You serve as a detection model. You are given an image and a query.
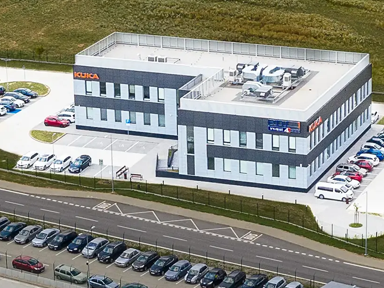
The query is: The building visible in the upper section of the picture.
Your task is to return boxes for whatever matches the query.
[73,32,372,191]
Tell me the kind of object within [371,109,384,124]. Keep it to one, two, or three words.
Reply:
vehicle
